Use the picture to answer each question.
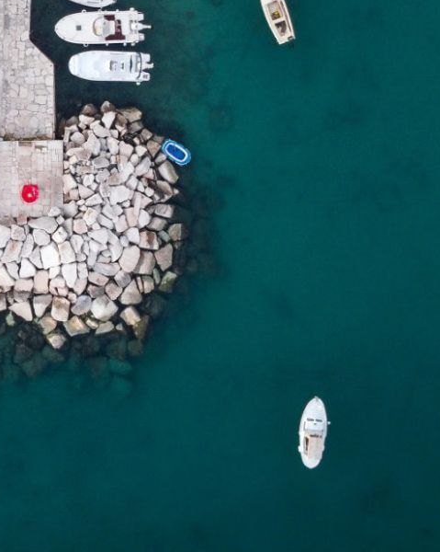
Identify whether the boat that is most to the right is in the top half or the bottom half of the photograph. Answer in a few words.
bottom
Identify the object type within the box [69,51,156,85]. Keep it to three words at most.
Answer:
boat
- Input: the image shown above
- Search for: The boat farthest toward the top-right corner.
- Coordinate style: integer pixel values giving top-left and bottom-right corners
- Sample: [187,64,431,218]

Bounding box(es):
[262,0,298,46]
